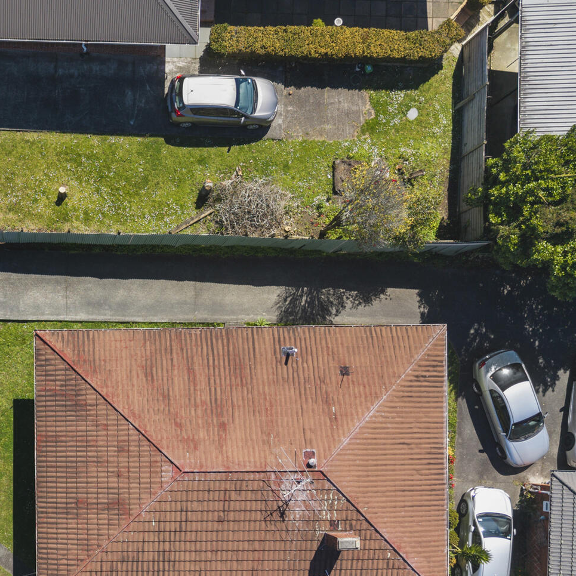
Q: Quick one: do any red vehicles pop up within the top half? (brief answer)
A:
No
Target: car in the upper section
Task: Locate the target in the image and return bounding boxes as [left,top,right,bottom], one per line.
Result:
[167,66,283,129]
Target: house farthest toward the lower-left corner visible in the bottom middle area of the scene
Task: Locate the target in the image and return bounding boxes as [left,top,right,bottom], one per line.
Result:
[31,322,451,576]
